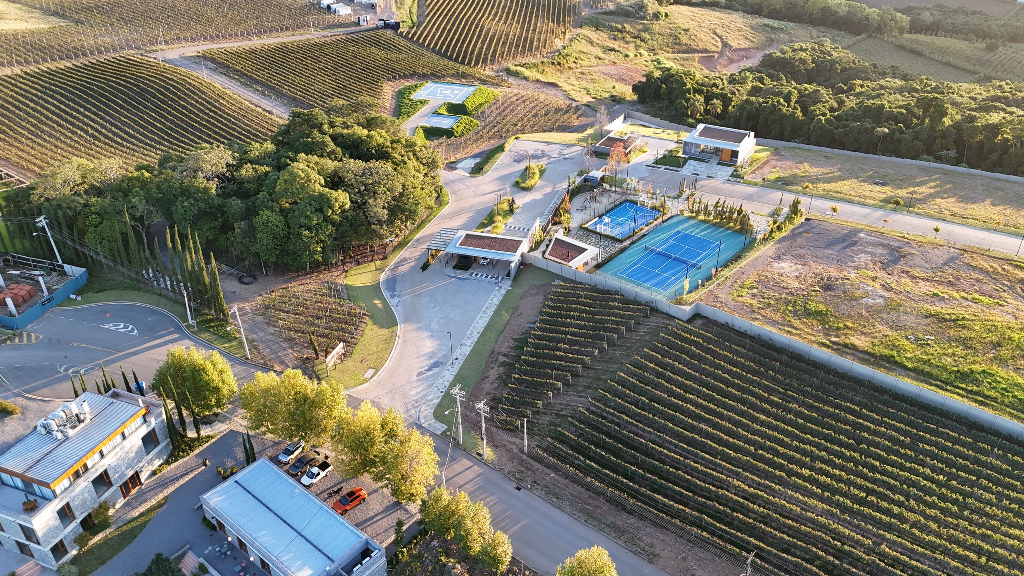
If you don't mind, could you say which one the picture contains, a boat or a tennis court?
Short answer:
tennis court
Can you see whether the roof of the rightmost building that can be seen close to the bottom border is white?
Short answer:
No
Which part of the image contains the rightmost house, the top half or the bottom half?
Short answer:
top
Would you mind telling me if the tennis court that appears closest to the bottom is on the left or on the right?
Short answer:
right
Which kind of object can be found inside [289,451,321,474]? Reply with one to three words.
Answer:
car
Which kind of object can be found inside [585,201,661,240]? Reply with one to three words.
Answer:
basketball court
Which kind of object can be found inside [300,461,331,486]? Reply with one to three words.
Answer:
truck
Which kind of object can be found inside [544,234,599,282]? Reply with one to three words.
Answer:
shed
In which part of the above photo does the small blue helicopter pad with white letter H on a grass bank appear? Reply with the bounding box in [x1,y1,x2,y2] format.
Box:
[421,113,479,141]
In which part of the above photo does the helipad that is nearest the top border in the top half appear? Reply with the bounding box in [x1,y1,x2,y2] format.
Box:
[401,79,500,116]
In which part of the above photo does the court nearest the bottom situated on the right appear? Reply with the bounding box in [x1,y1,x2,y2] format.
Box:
[619,230,722,291]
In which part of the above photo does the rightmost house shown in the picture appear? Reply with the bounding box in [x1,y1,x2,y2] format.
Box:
[683,119,751,164]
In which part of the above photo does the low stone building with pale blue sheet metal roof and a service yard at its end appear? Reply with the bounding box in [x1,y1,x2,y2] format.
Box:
[199,456,387,576]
